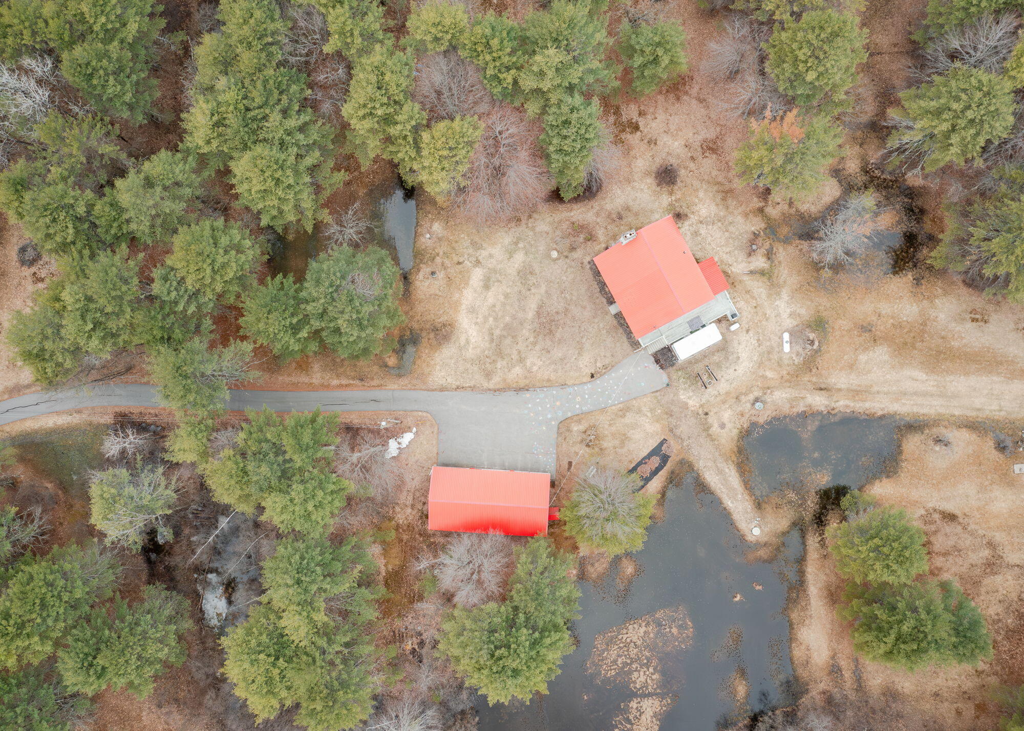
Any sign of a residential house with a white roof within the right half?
No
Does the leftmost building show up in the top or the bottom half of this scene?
bottom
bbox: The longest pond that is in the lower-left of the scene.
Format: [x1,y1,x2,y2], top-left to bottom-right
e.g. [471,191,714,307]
[200,507,276,640]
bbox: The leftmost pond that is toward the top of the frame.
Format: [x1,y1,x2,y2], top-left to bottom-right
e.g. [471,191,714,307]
[269,227,331,285]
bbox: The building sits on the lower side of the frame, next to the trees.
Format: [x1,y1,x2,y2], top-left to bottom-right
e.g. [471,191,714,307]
[429,466,558,536]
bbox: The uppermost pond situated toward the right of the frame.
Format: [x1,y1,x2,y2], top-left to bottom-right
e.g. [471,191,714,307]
[774,225,903,278]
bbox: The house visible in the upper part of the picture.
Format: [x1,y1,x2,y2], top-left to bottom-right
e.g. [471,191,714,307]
[594,215,742,358]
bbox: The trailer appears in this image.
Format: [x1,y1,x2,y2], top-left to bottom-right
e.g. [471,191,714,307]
[665,324,721,360]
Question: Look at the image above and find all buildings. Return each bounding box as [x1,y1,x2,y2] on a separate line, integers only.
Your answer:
[594,215,742,358]
[429,466,558,536]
